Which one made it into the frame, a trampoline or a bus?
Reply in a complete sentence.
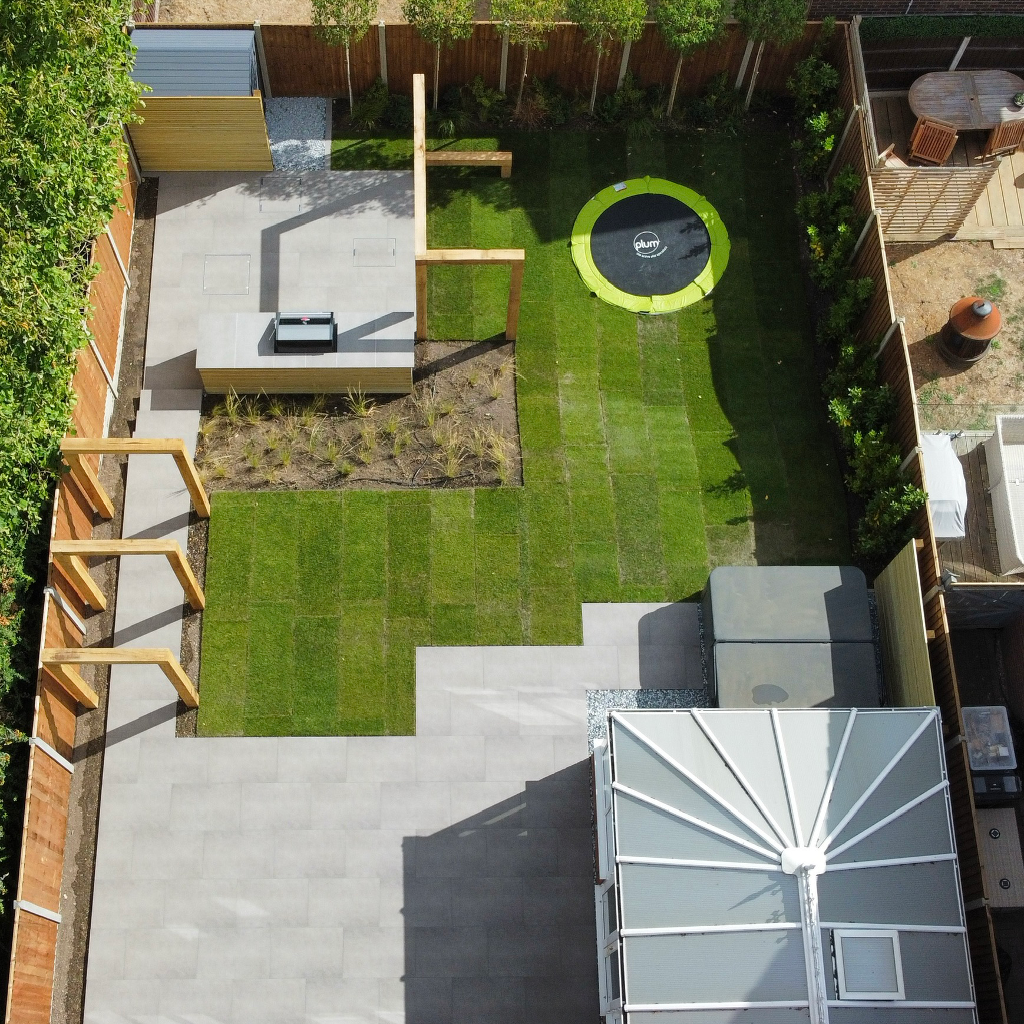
It is a trampoline that can be seen here.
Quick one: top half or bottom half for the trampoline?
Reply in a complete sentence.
Seen from above, the trampoline lies in the top half of the view.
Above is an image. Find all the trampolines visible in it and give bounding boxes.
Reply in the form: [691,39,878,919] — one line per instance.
[570,173,732,315]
